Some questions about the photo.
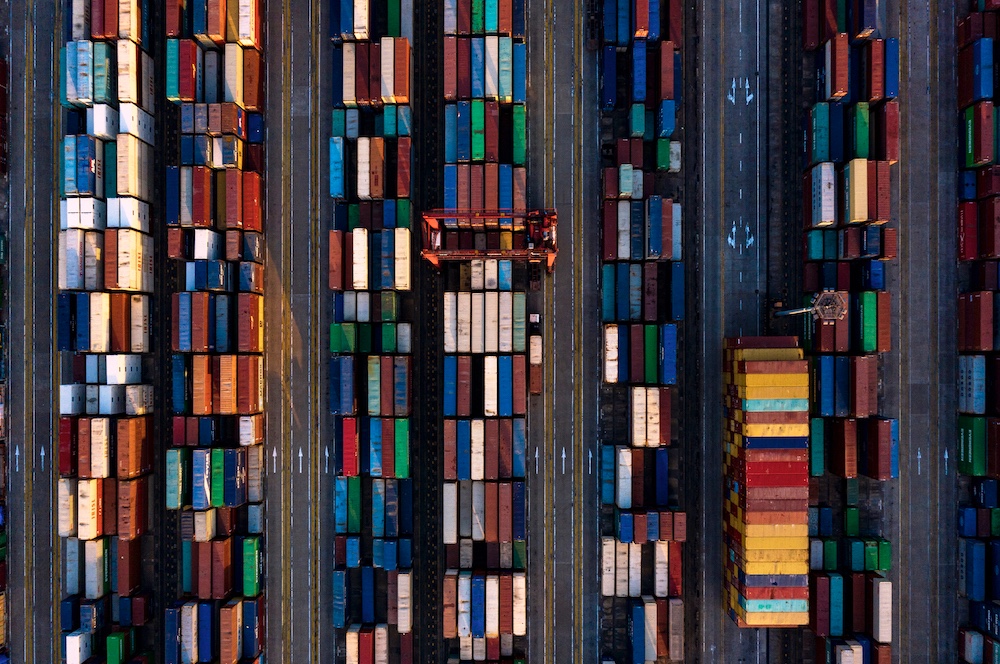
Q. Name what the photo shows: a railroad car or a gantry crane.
gantry crane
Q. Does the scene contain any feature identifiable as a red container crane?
Yes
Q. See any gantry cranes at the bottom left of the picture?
No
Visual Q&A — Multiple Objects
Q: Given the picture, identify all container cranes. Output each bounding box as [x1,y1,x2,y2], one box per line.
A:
[420,211,561,273]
